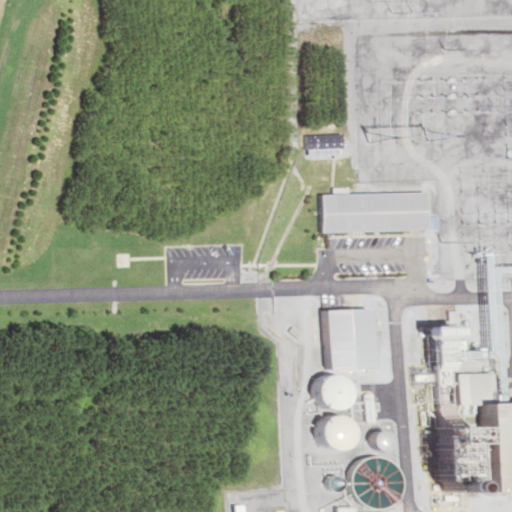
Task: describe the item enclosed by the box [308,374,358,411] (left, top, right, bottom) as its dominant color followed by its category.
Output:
white storage tank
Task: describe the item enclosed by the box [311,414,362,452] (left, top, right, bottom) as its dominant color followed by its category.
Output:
white storage tank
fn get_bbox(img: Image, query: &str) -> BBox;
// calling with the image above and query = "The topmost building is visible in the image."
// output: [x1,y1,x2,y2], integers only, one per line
[302,135,344,150]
